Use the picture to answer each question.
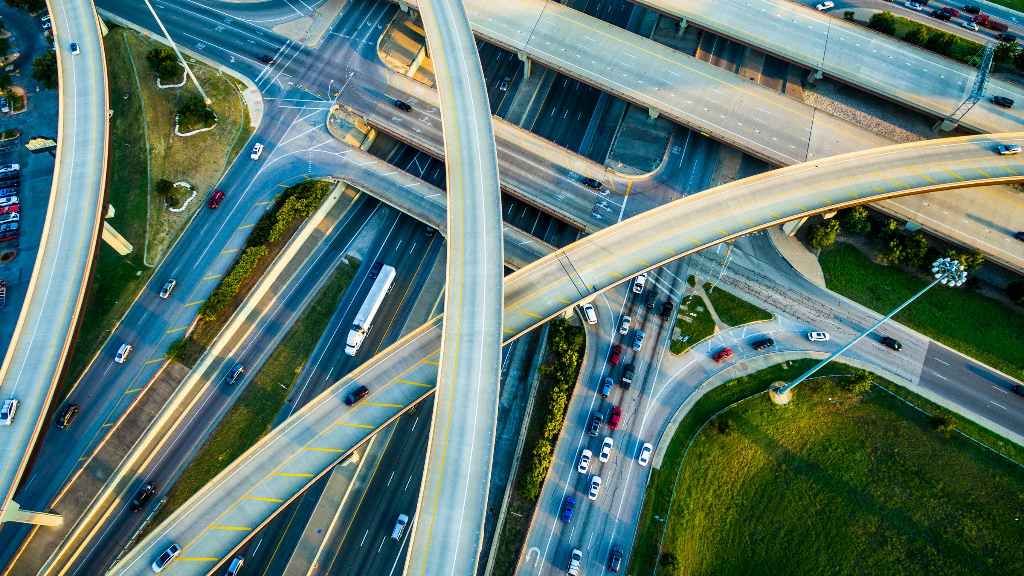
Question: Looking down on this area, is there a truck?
Yes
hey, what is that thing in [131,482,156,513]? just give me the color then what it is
black truck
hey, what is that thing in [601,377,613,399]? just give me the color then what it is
blue vehicle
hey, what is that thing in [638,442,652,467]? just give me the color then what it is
white car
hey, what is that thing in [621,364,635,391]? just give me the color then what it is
black vehicle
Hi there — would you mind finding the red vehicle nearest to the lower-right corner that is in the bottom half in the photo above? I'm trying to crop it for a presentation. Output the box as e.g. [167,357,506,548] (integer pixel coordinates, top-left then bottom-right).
[712,348,734,365]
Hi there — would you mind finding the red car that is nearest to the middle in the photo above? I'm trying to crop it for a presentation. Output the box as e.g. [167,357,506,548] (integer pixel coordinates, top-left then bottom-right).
[609,345,622,367]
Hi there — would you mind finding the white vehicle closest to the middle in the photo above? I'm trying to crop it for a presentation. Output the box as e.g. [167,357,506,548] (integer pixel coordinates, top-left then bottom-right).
[584,305,596,324]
